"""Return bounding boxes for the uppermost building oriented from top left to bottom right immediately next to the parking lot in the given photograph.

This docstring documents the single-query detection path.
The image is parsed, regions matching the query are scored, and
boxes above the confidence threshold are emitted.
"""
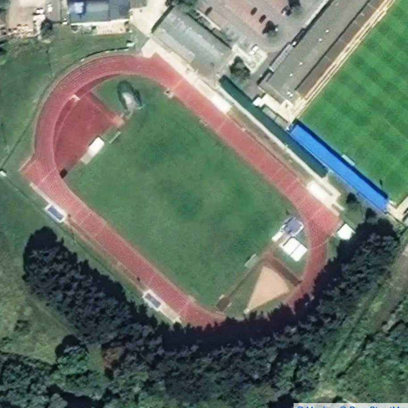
[155,4,233,73]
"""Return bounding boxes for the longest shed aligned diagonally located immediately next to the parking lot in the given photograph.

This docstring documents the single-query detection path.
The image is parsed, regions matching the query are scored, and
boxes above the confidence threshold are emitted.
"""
[220,75,327,178]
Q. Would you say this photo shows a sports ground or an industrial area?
sports ground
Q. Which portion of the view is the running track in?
center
